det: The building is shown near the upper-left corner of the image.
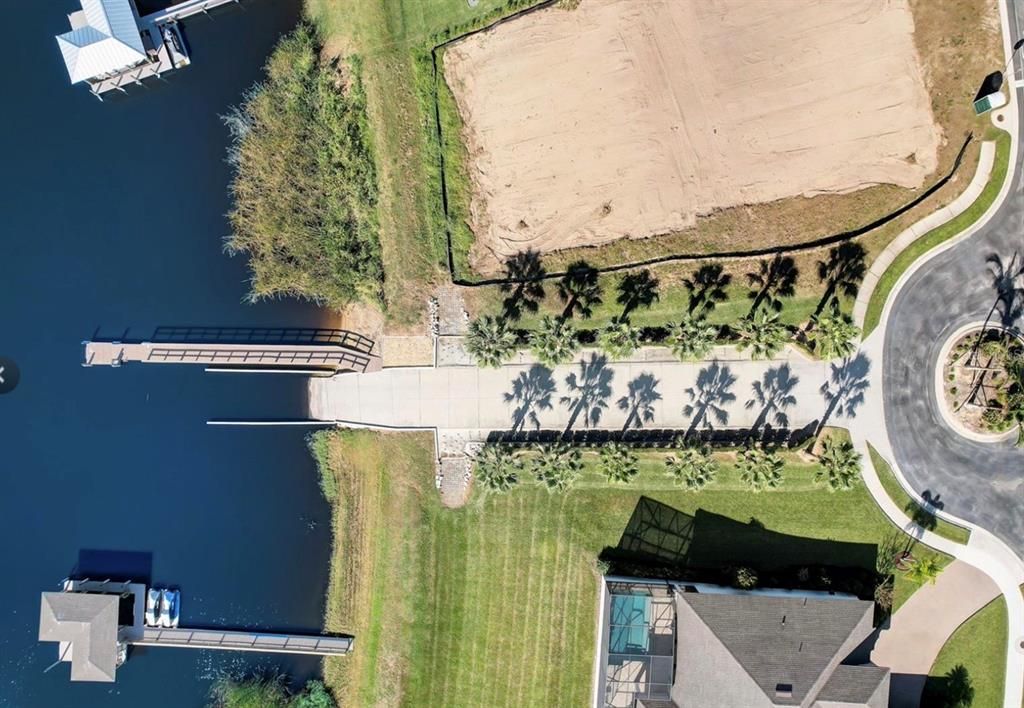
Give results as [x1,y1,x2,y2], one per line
[55,0,198,93]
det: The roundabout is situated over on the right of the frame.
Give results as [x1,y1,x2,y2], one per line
[934,322,1024,442]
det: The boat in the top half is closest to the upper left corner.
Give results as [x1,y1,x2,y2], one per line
[167,26,197,76]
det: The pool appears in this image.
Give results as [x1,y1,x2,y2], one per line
[607,594,649,655]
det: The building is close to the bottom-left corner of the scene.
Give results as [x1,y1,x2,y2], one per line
[38,579,147,683]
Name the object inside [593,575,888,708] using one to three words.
house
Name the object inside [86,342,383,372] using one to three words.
pier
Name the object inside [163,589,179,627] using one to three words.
boat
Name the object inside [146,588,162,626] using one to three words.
boat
